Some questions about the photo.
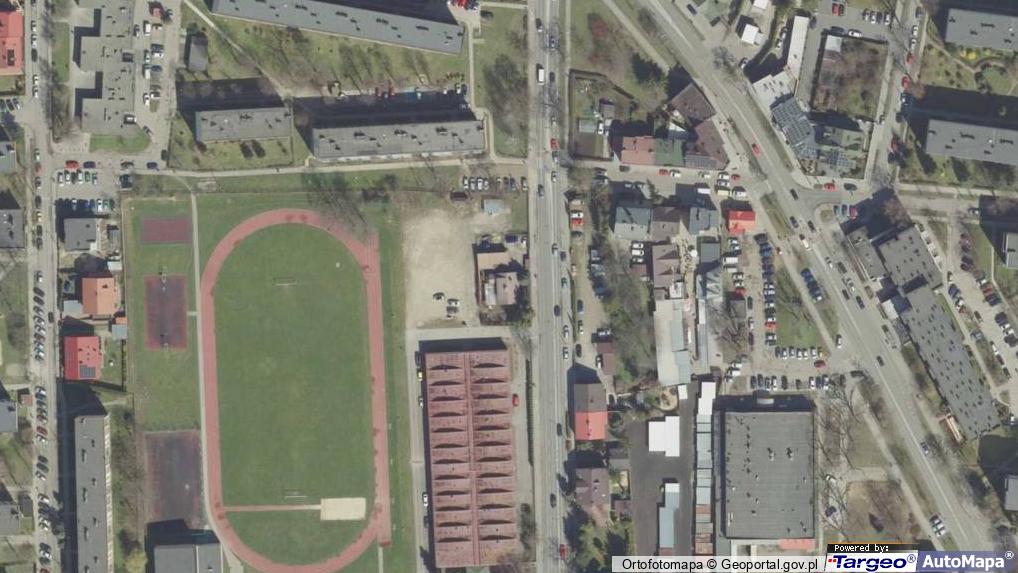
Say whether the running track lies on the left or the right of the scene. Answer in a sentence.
You can find the running track on the left side of the picture.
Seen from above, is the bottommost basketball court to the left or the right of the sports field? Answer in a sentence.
The sports field has the bottommost basketball court on its left side.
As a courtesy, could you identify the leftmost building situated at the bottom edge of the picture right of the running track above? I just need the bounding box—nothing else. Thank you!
[425,350,519,567]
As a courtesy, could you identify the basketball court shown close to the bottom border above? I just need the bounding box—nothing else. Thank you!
[143,430,204,545]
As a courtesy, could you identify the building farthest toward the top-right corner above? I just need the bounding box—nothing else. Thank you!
[944,9,1018,55]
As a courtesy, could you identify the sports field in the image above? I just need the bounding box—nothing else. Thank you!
[213,223,375,564]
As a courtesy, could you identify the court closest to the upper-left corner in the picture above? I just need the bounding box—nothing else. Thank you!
[139,217,191,245]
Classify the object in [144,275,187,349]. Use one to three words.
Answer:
basketball court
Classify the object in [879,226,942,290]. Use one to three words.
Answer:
building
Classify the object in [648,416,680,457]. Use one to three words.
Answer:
shed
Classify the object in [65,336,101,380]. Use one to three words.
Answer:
house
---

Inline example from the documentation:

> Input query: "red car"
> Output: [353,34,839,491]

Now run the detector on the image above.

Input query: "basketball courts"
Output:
[144,275,187,349]
[139,217,191,245]
[143,430,204,545]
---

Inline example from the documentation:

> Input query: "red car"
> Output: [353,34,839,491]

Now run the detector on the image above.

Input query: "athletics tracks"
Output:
[200,210,391,573]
